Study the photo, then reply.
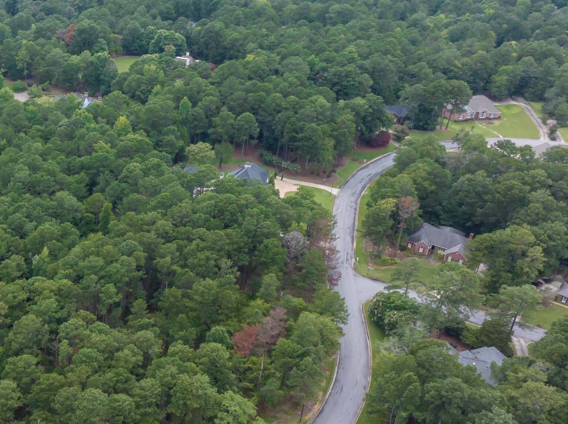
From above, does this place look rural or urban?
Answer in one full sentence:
This place is rural.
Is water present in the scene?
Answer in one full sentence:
No, the scene doesn't show any water.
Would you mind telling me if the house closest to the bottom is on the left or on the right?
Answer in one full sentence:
The house closest to the bottom appears in the right half of the scene.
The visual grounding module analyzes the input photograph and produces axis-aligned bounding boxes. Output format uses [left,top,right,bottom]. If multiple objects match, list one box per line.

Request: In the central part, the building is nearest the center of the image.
[221,164,270,195]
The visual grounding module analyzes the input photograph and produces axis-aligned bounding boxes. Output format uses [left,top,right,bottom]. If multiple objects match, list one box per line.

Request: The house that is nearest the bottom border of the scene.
[445,342,508,391]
